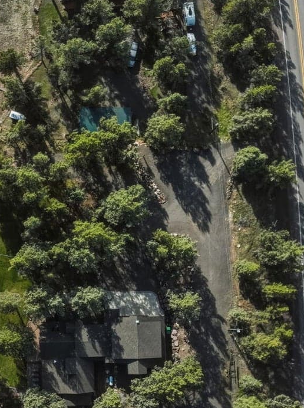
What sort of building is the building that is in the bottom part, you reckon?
residential house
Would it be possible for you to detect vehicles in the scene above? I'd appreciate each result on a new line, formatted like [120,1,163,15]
[187,31,199,57]
[126,40,138,69]
[182,0,196,27]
